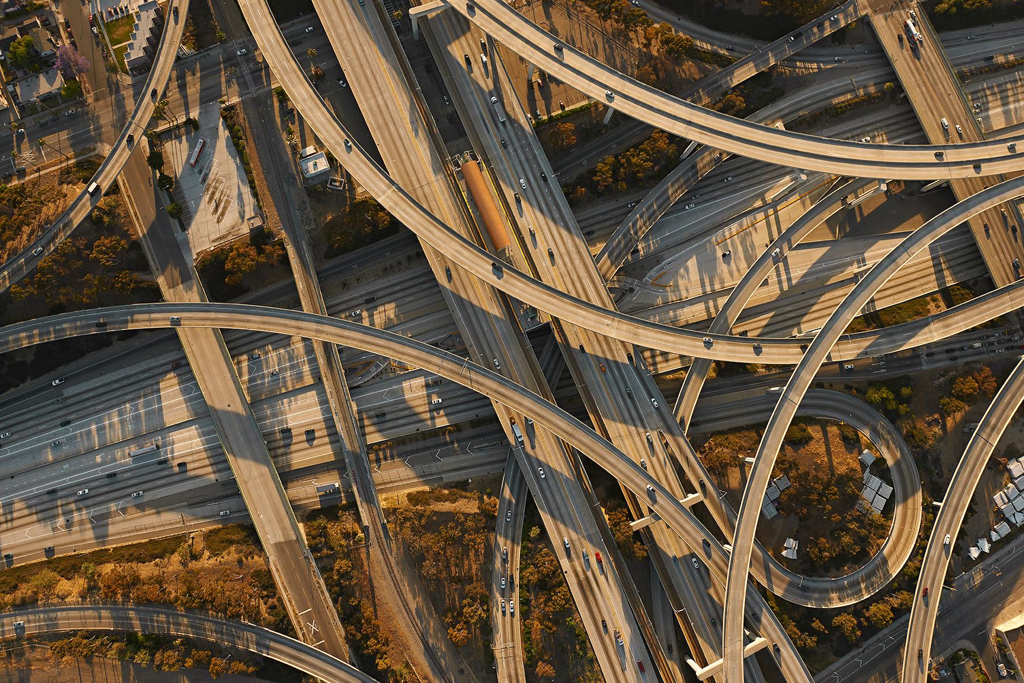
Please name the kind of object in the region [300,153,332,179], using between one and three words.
building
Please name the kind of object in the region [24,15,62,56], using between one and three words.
house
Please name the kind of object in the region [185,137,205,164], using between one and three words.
bus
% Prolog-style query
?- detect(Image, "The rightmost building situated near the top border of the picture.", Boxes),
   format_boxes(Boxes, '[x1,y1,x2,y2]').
[122,0,167,68]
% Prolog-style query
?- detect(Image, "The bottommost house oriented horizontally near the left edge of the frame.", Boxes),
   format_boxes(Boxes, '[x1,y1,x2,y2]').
[14,73,66,104]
